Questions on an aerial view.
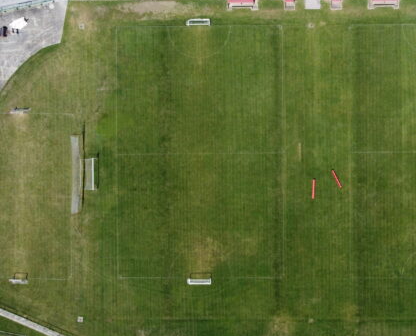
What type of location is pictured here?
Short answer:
sports ground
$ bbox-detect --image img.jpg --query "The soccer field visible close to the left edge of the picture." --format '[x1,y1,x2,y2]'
[0,114,71,280]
